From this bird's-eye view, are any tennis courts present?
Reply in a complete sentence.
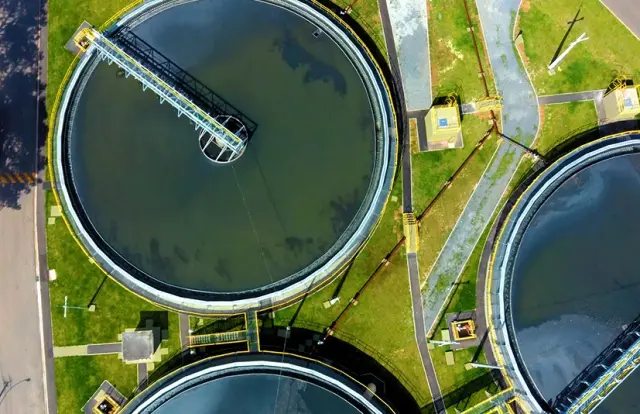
No, the picture doesn't show any tennis court.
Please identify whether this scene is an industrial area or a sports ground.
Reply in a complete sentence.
This looks like an industrial area.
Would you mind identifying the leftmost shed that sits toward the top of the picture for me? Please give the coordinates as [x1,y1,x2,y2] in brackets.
[427,96,461,141]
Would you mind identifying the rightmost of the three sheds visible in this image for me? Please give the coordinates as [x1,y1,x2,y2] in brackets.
[606,76,640,124]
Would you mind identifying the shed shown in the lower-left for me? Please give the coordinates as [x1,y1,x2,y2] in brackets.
[118,327,168,371]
